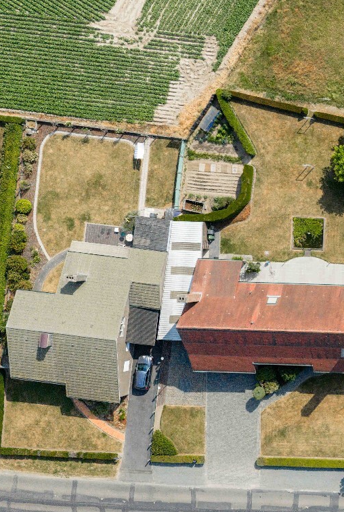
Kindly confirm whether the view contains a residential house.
Yes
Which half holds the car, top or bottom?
bottom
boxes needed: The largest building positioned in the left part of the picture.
[5,240,167,405]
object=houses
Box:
[5,240,167,405]
[175,258,344,375]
